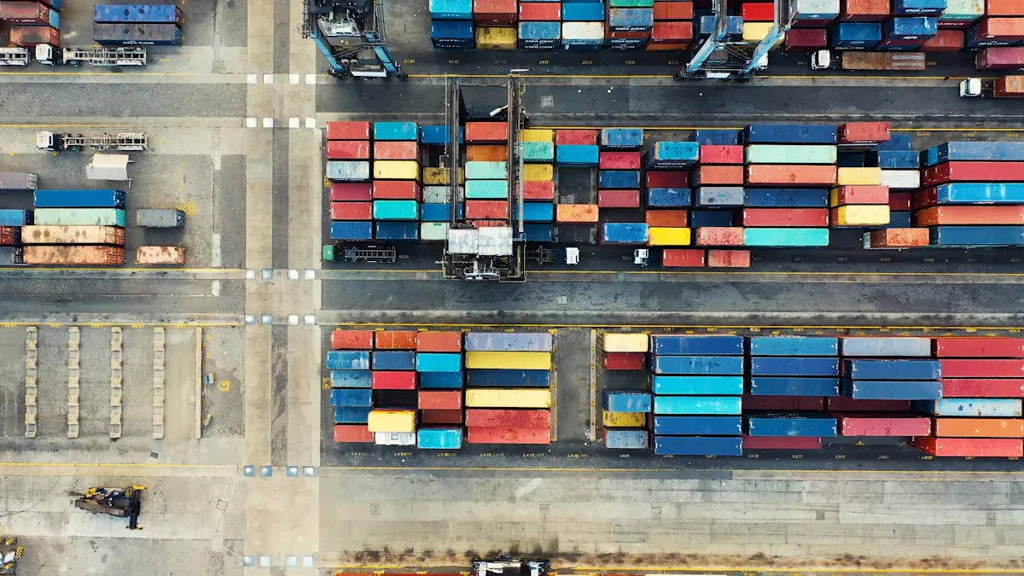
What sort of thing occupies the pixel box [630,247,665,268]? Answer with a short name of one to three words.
truck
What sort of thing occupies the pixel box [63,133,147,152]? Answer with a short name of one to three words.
trailer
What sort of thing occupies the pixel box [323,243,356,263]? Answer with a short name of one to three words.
vehicle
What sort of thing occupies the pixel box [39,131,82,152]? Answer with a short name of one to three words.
truck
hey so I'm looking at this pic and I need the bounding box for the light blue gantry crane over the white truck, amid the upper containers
[673,0,804,84]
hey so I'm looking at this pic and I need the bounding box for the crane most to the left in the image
[303,0,417,82]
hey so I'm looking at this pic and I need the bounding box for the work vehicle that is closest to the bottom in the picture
[64,481,150,535]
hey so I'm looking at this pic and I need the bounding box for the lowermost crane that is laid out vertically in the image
[432,70,539,290]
